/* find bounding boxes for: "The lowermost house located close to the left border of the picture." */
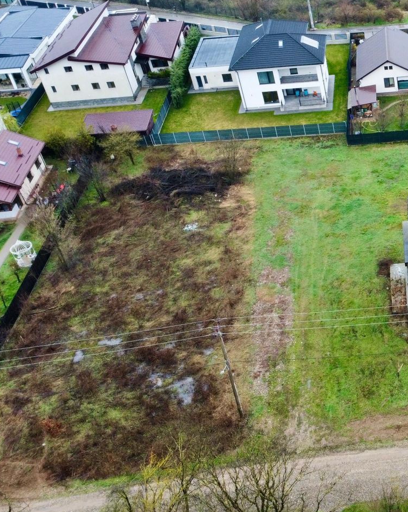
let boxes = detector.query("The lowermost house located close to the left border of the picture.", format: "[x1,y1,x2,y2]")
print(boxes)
[0,126,48,225]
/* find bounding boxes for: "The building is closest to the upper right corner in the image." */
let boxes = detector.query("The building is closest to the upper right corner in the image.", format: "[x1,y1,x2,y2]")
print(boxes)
[356,24,408,94]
